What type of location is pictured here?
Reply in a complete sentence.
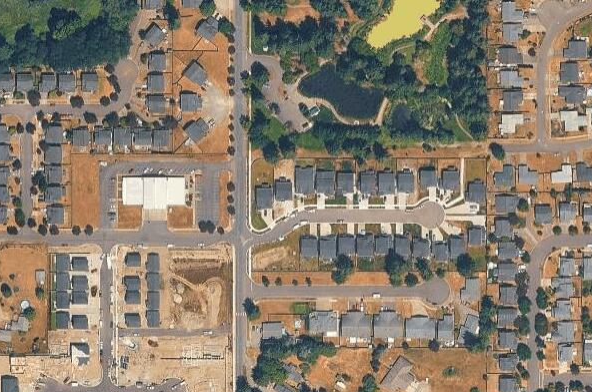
What you see here is a residential area.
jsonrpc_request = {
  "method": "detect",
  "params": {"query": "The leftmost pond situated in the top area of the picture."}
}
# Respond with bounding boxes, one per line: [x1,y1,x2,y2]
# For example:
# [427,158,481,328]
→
[301,65,384,119]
